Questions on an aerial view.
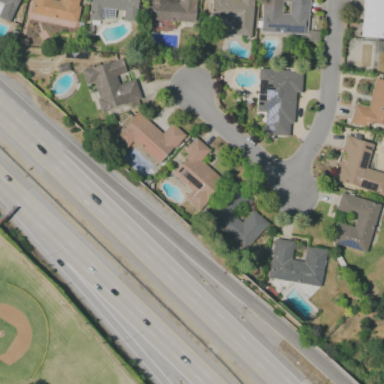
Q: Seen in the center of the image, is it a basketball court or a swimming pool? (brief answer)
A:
swimming pool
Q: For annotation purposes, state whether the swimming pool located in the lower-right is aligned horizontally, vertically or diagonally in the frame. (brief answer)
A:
diagonally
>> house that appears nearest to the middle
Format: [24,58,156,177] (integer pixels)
[173,138,223,212]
